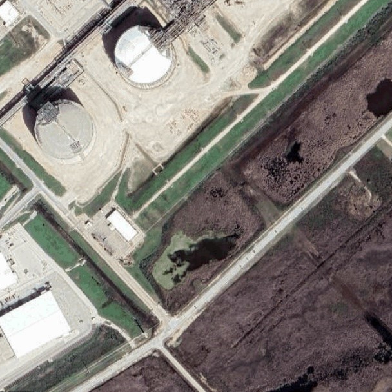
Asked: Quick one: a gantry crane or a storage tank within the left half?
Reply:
storage tank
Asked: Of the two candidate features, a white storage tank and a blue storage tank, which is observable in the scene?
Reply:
white storage tank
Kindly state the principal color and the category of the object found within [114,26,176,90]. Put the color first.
white storage tank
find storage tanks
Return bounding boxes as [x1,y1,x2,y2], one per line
[34,101,97,165]
[114,26,176,90]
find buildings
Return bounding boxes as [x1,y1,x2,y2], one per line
[0,252,17,290]
[0,1,19,27]
[106,210,137,242]
[0,290,71,360]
